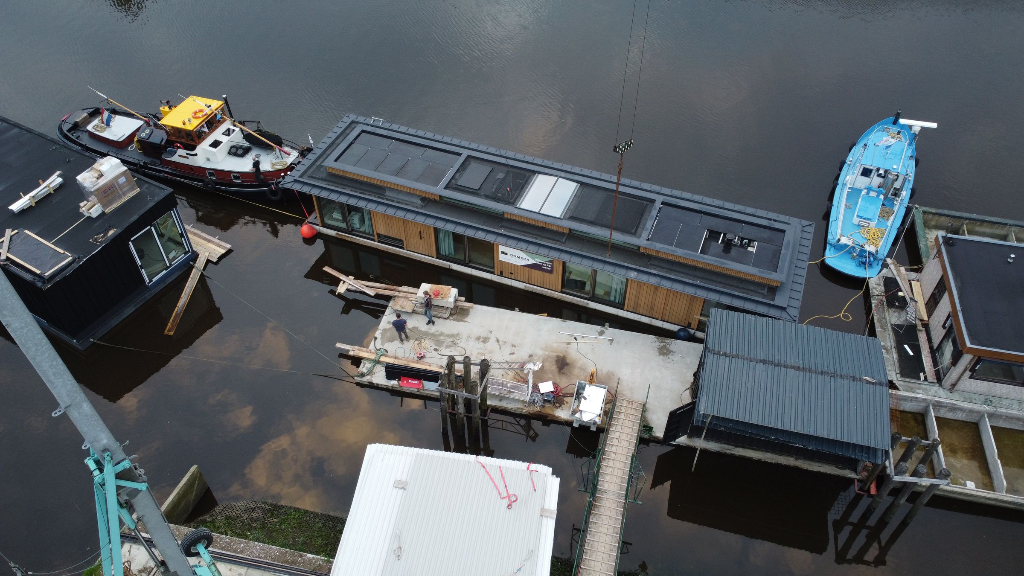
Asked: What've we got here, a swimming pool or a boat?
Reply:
boat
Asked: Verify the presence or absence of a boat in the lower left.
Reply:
No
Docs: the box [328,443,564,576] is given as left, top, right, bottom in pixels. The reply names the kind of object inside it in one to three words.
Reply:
building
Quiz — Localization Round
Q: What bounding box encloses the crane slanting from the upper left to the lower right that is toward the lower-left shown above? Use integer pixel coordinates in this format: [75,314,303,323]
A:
[0,293,195,576]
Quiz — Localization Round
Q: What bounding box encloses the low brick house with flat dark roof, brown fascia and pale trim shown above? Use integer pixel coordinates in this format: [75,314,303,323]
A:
[918,232,1024,393]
